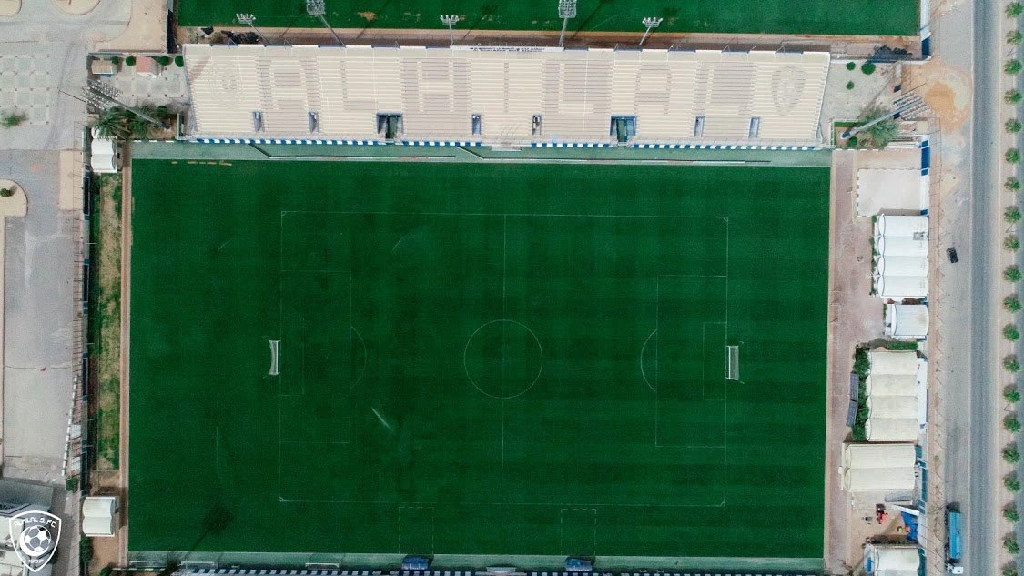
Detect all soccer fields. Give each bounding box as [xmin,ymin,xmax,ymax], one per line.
[128,161,831,558]
[179,0,920,35]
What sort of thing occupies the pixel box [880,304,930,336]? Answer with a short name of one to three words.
tent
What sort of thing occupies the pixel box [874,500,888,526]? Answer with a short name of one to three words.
work vehicle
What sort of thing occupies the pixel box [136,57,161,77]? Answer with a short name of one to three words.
building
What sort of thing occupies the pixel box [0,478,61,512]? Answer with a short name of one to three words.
building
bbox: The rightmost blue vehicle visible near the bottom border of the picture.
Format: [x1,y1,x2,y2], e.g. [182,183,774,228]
[943,502,964,575]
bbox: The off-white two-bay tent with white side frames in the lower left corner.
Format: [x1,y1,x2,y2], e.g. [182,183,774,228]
[81,495,124,537]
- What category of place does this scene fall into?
sports ground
